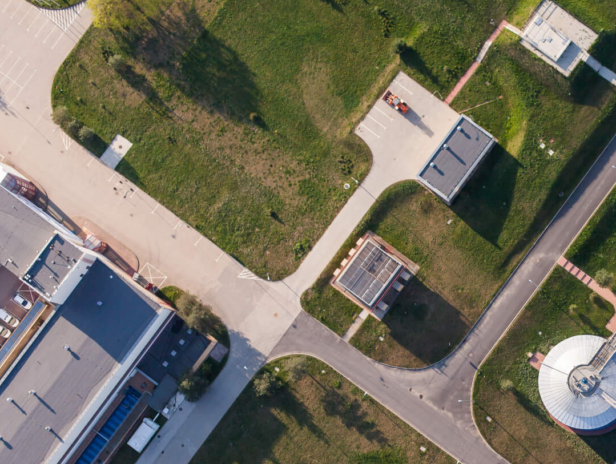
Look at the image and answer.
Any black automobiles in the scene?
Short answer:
No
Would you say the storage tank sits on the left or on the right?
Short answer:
right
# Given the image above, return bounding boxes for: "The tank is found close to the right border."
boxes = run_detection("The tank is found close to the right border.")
[538,335,616,436]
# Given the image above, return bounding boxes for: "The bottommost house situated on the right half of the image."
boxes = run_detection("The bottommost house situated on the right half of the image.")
[330,231,420,320]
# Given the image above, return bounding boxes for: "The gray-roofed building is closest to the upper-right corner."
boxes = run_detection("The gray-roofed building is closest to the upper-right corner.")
[416,114,497,202]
